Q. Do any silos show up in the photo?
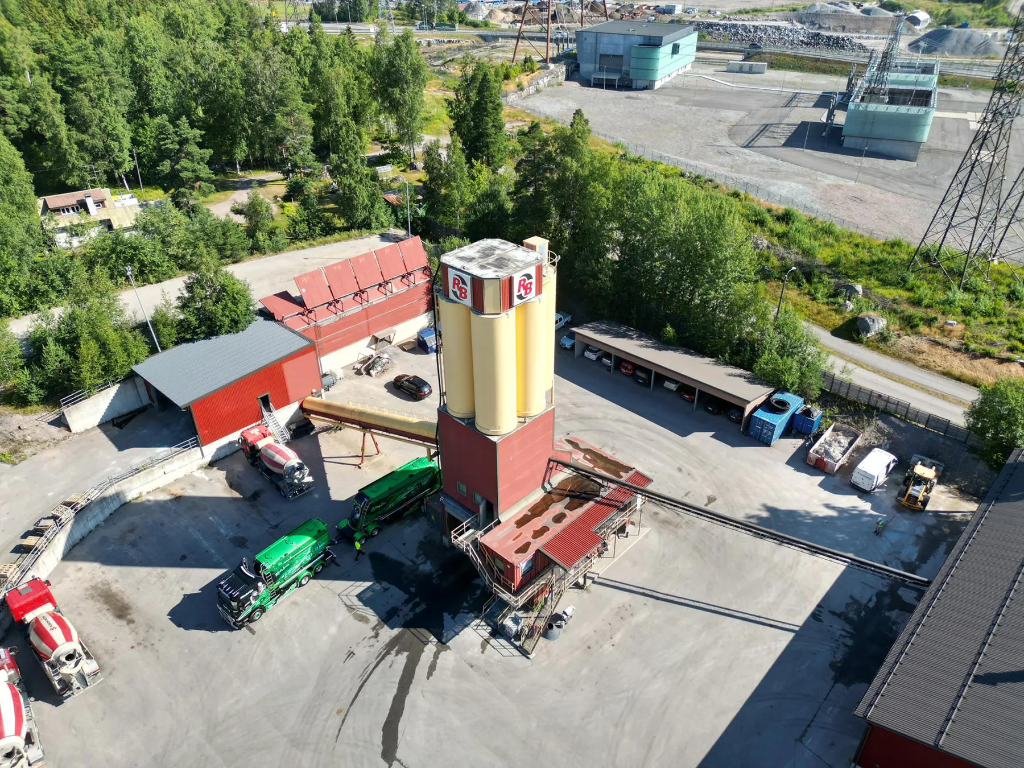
Yes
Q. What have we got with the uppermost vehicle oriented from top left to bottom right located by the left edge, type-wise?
truck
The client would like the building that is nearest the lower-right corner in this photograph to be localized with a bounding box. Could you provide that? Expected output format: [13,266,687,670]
[847,444,1024,768]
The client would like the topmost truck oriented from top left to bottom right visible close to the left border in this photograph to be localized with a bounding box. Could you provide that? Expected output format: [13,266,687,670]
[1,580,106,706]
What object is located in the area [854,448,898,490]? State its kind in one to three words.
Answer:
van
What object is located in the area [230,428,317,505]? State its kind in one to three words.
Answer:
truck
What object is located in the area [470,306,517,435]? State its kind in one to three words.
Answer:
silo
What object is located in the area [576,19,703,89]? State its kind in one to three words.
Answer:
building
